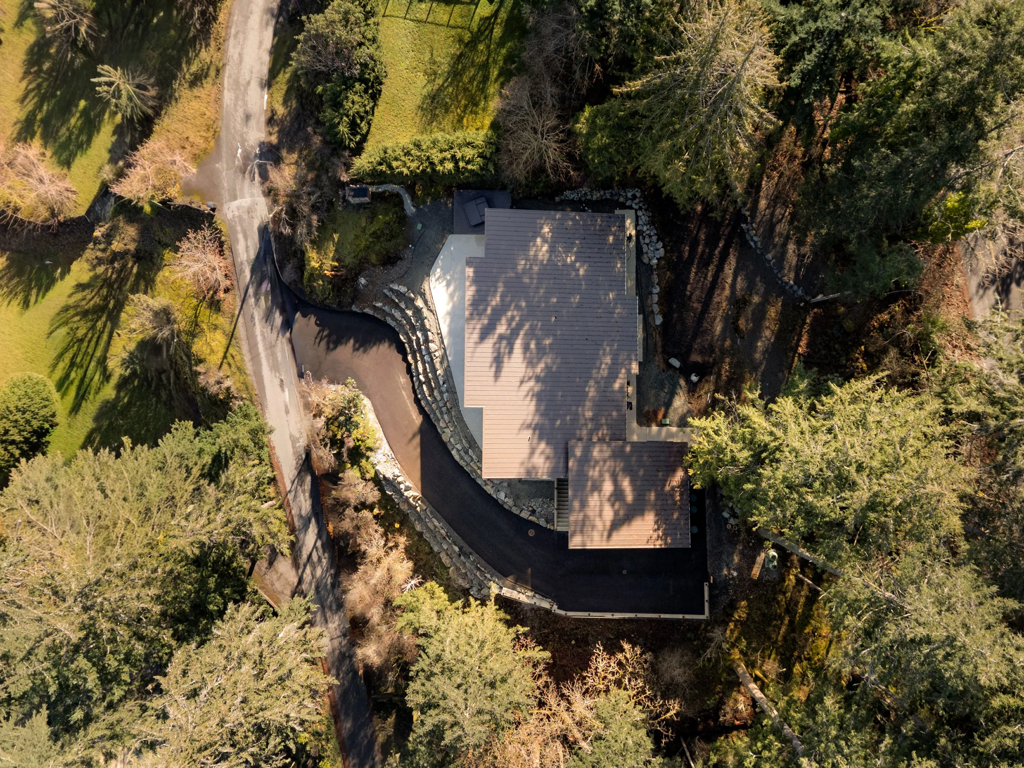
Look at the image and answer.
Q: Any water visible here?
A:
No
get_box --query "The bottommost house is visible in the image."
[464,208,691,548]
